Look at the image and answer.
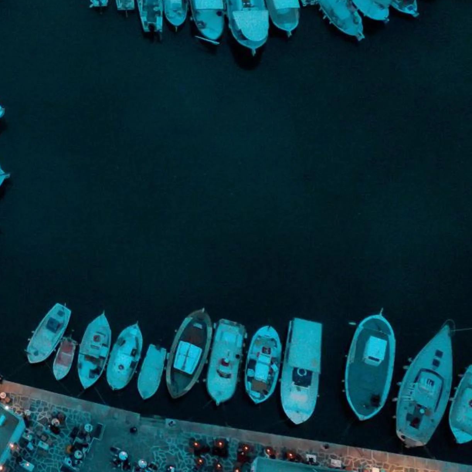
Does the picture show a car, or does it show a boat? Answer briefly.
boat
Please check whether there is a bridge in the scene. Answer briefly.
No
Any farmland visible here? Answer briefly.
No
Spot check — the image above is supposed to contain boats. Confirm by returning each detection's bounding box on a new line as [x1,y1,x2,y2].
[318,0,367,42]
[239,314,282,432]
[163,0,188,31]
[448,364,472,471]
[386,0,421,22]
[91,0,110,12]
[109,323,143,410]
[280,316,326,439]
[54,334,76,395]
[188,0,228,48]
[341,308,396,454]
[263,0,301,41]
[134,342,168,417]
[77,291,112,401]
[11,290,74,386]
[206,311,246,424]
[166,309,211,426]
[393,324,469,463]
[349,0,391,25]
[138,0,163,40]
[225,0,268,57]
[115,0,135,16]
